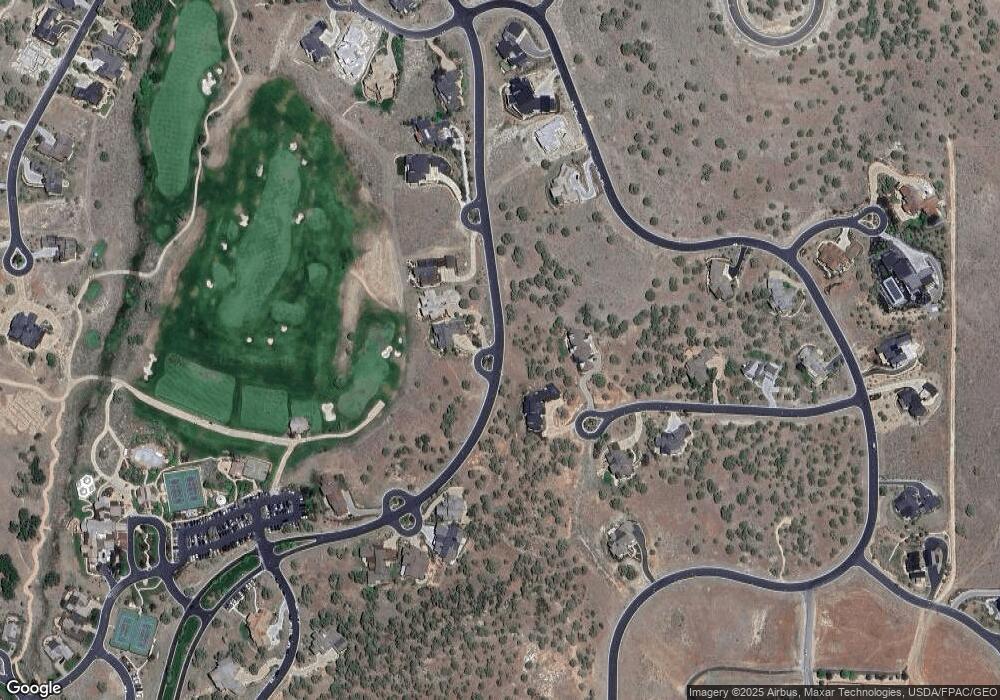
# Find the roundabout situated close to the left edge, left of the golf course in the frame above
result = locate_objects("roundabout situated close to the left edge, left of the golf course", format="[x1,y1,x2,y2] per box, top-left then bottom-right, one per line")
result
[3,243,33,276]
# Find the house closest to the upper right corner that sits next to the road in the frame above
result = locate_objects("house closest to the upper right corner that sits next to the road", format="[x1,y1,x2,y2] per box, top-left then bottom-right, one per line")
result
[898,183,942,218]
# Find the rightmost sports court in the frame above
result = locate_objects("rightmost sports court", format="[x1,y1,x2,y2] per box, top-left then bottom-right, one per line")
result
[243,458,271,481]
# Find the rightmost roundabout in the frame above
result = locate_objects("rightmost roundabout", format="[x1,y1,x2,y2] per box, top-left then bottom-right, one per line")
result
[856,206,889,236]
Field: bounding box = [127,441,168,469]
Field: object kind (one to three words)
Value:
swimming pool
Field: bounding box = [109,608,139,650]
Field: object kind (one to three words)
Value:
tennis court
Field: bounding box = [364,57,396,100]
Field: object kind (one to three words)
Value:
house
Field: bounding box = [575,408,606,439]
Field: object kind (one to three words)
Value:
roundabout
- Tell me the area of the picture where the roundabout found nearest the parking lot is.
bottom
